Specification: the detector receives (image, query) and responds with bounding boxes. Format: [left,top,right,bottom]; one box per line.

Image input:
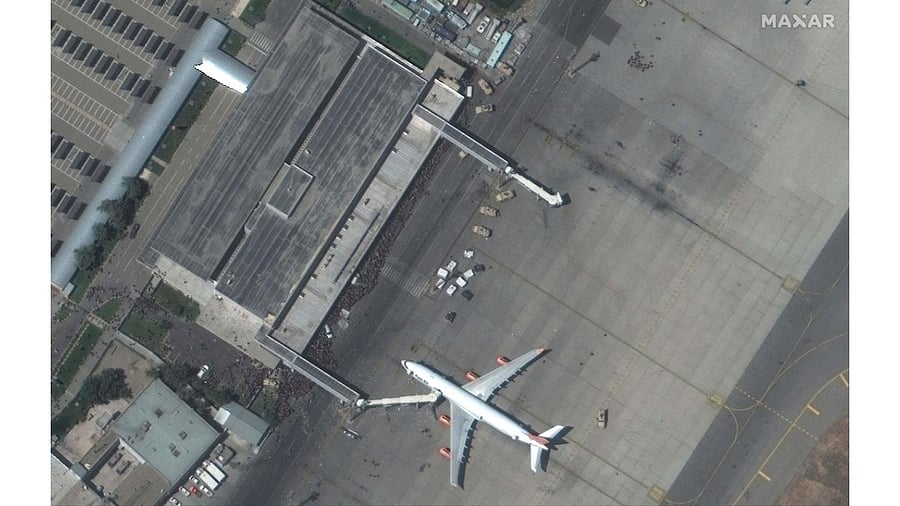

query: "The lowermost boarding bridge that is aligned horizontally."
[356,388,446,411]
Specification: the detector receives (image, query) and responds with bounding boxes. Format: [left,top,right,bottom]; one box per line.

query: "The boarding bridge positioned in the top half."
[504,165,564,207]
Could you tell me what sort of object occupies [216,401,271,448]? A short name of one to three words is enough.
hangar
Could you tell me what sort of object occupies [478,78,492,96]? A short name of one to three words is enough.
vehicle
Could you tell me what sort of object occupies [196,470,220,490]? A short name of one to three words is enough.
vehicle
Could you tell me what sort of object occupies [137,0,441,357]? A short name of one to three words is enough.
building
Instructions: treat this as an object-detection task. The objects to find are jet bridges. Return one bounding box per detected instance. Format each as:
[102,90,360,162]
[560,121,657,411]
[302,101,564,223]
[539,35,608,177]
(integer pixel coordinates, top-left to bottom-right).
[504,165,564,207]
[356,388,446,411]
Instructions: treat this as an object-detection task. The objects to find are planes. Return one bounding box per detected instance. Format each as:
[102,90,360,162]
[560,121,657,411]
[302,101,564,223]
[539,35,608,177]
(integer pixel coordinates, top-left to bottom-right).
[401,349,562,487]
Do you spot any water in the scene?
No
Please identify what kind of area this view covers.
airport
